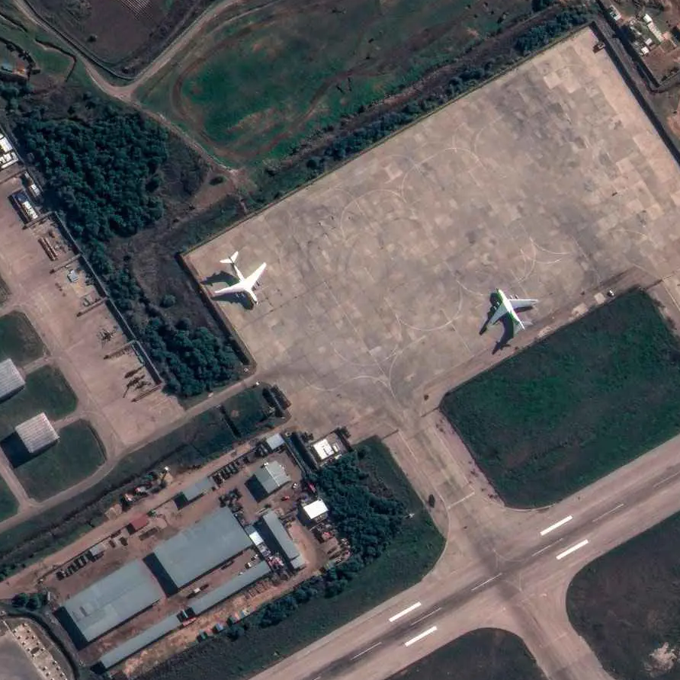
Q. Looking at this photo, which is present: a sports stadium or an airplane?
airplane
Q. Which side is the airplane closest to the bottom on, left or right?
right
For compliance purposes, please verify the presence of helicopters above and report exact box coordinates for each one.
[98,325,119,343]
[127,374,146,387]
[129,363,145,374]
[137,382,151,389]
